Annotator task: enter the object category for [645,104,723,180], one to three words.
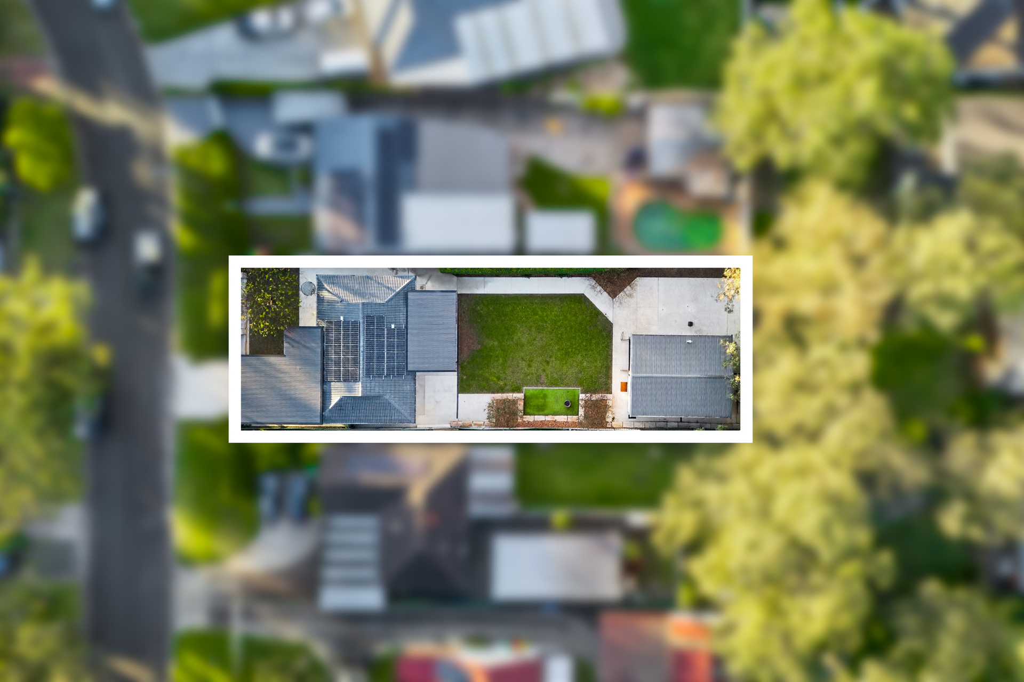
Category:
building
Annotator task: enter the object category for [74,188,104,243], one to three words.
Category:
car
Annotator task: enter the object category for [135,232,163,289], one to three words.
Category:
truck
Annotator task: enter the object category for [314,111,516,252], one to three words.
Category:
house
